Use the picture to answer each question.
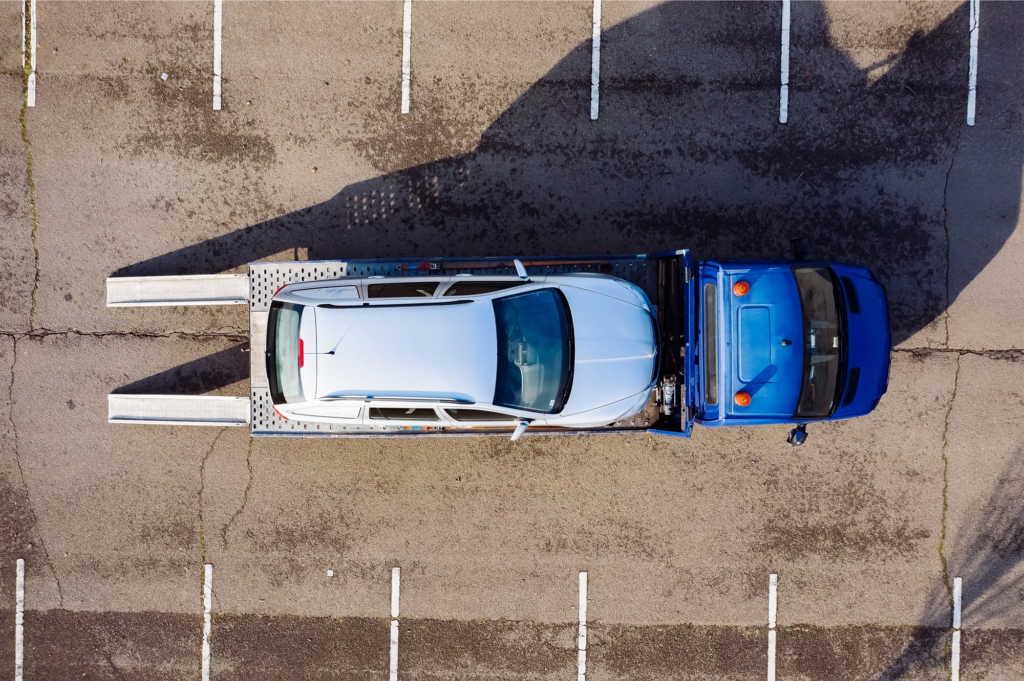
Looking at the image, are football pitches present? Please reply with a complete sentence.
No, no football pitch can be seen from above.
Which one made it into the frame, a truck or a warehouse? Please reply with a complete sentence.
Of the two, only a truck appears.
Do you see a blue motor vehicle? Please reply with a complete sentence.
Yes, there is a blue motor vehicle in the image.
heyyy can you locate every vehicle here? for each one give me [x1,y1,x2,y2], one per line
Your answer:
[241,238,889,446]
[263,258,662,441]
